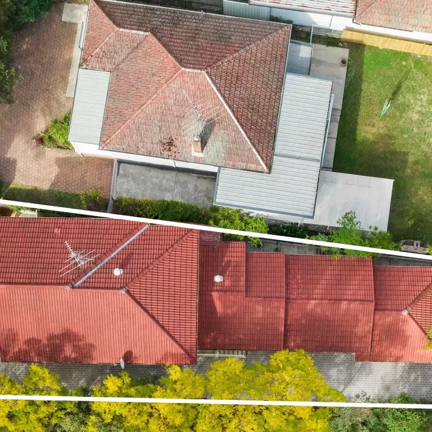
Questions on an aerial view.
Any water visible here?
No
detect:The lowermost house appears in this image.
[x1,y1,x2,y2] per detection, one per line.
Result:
[0,215,432,366]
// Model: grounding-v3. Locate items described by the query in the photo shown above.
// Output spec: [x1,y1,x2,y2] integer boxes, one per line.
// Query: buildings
[0,215,432,366]
[67,0,337,223]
